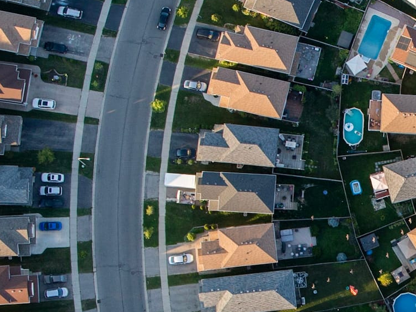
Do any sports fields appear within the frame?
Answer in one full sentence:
No, the frame has no sports field in it.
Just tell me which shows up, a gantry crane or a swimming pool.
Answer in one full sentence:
I can see a swimming pool in this picture.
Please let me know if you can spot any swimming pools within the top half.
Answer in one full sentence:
Yes, within the top half there is a swimming pool.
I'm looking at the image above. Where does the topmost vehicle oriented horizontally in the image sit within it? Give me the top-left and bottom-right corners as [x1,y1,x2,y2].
[56,4,83,18]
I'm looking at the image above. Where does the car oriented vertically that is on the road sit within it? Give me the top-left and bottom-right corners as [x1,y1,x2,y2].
[155,4,170,31]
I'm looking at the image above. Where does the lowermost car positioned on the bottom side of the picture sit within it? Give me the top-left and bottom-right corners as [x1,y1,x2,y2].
[42,286,69,299]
